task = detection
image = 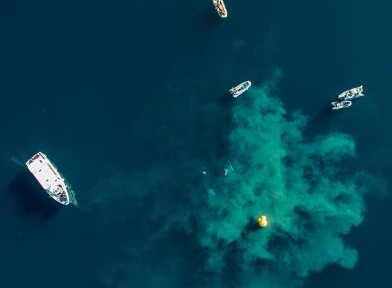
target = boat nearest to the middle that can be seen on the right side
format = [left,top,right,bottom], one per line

[228,81,251,96]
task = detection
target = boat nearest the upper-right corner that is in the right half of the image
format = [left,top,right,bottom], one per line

[338,82,366,98]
